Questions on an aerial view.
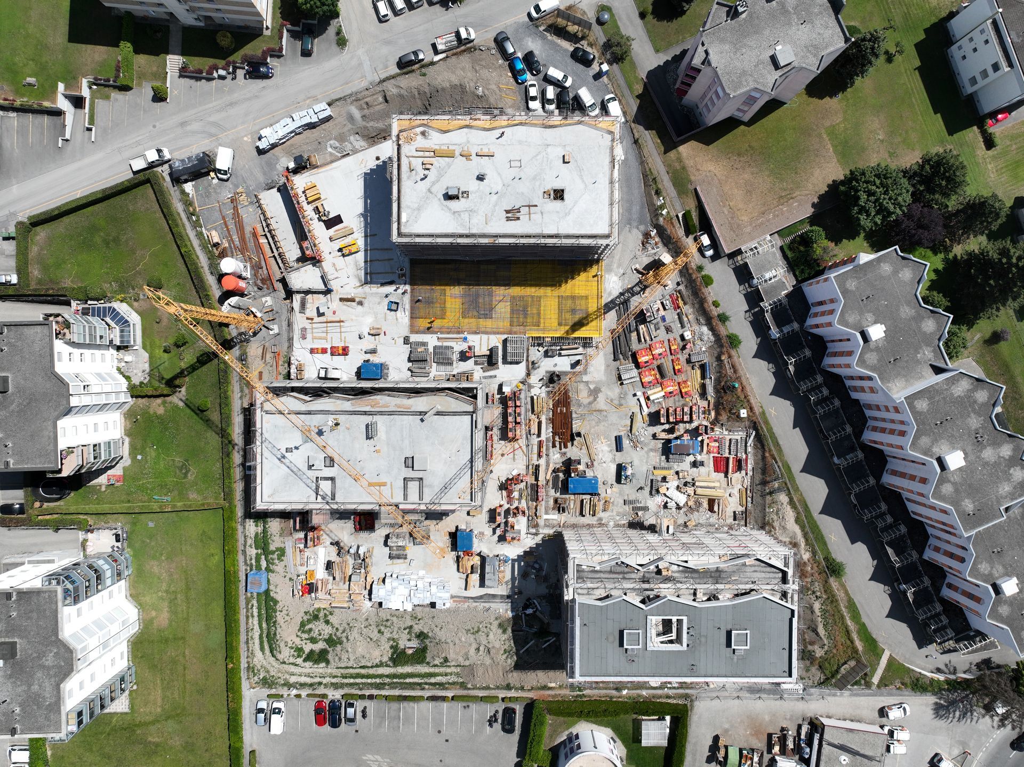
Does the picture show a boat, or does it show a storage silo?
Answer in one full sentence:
Of the two, only a storage silo appears.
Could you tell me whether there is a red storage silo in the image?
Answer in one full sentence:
Yes, you can see a red storage silo in this photo.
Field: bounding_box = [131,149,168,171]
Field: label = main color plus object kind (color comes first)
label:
white truck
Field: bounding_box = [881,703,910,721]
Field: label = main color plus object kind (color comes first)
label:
white vehicle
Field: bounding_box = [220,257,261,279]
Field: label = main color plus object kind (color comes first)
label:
white silo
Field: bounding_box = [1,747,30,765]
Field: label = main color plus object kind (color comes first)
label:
white car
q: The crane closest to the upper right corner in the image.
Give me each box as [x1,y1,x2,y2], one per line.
[456,231,715,503]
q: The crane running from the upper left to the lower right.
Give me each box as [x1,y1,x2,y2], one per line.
[140,285,451,562]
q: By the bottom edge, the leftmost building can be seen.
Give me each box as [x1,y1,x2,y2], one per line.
[0,550,140,743]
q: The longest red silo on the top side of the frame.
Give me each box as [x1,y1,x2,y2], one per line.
[222,274,262,295]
